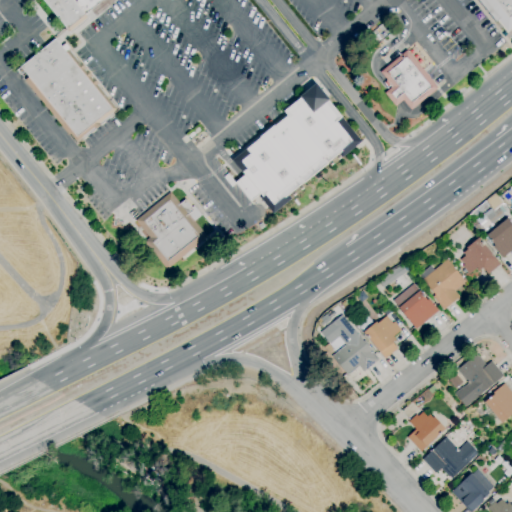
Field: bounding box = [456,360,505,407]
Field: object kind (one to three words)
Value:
house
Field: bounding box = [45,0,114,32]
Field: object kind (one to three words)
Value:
building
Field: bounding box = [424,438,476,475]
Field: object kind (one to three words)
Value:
house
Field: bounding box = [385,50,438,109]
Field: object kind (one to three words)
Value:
building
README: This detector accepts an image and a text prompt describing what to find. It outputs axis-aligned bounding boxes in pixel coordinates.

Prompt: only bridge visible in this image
[0,363,94,478]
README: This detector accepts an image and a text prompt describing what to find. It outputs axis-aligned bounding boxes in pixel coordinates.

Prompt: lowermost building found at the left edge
[22,35,116,142]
